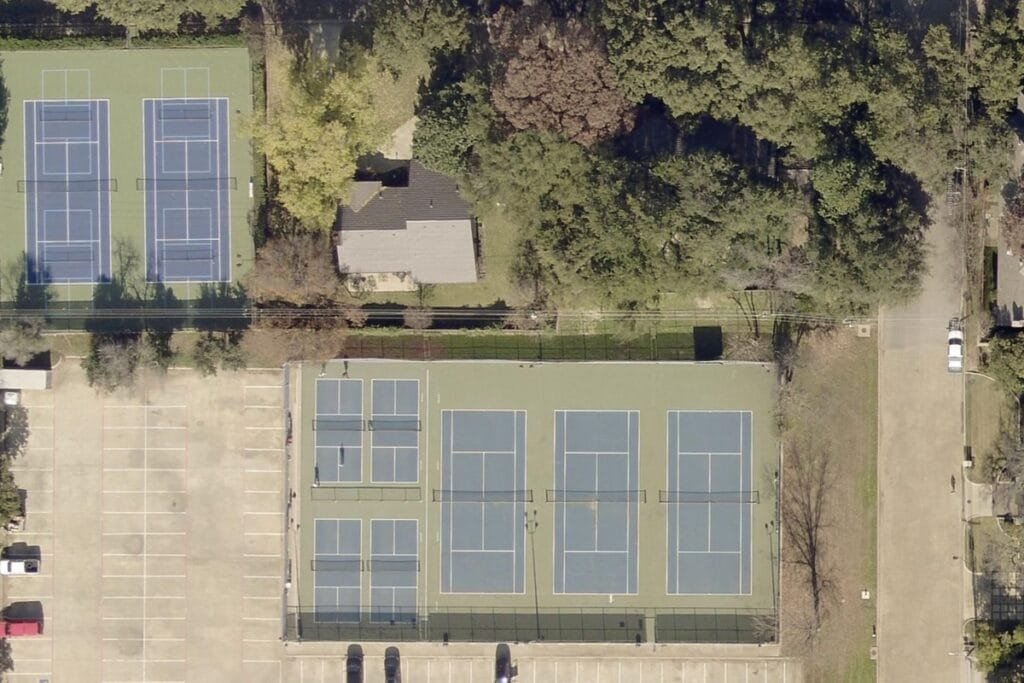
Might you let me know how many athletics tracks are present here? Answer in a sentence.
There are no athletics tracks in the image.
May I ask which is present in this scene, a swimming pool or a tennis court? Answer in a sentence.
This aerial view contains a tennis court.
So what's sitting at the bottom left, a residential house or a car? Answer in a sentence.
It is a car that can be seen at the bottom left.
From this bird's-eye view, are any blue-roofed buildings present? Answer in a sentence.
No, the frame has no blue-roofed building in it.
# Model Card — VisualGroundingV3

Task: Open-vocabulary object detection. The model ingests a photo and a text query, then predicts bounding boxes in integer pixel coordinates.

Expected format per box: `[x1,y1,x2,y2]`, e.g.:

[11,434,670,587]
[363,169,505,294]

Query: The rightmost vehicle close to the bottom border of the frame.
[494,653,518,683]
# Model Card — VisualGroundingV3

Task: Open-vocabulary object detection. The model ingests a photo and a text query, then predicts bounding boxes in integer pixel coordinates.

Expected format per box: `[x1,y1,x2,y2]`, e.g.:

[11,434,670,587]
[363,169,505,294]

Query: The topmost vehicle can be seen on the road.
[947,330,966,373]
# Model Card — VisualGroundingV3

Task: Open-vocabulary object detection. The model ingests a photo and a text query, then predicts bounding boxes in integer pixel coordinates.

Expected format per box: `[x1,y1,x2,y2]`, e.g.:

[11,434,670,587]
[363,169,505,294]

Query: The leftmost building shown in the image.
[332,158,476,283]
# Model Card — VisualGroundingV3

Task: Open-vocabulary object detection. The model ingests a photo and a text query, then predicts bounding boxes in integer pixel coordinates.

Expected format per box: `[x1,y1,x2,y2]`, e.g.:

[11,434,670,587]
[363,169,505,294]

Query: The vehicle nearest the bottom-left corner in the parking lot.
[3,619,42,637]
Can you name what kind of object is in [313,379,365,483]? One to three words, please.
sports court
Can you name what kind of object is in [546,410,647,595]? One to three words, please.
tennis court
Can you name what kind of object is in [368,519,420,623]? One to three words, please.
sports court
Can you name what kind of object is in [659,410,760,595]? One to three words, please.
tennis court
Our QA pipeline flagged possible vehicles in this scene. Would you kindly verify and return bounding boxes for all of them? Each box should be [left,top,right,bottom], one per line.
[3,619,42,637]
[345,654,363,683]
[494,653,518,683]
[3,390,16,407]
[0,558,41,576]
[384,654,401,683]
[947,330,966,373]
